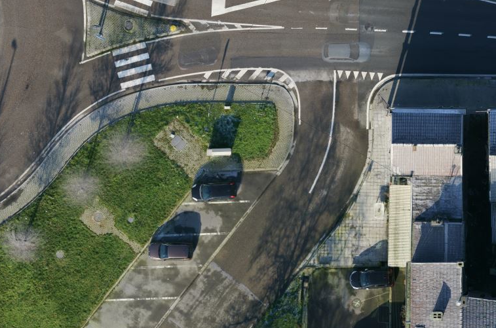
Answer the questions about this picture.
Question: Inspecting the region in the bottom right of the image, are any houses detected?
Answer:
Yes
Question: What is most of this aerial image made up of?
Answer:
paved ground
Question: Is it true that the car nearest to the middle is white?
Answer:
No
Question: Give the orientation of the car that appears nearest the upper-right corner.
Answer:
from left to right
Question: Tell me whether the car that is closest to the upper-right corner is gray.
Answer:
Yes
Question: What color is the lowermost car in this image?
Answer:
black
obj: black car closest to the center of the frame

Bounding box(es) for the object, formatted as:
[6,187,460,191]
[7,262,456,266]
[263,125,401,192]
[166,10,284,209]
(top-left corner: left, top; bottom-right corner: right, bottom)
[191,180,237,203]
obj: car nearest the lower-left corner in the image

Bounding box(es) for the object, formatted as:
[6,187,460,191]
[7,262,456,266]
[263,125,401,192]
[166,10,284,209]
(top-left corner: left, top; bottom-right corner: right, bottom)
[149,240,193,262]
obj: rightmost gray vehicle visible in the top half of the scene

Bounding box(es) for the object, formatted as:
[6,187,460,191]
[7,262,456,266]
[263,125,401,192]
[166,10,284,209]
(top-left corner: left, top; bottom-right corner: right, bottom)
[322,40,371,64]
